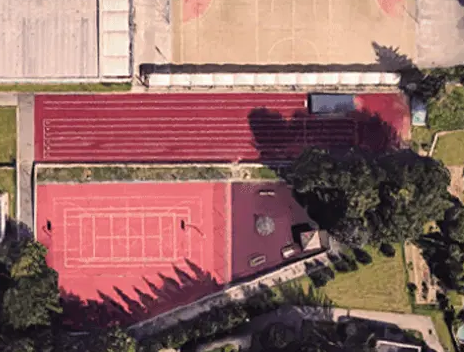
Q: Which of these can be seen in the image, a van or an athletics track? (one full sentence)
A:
The one in the frame is an athletics track.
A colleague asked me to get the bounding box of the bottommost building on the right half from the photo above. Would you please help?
[300,230,321,251]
